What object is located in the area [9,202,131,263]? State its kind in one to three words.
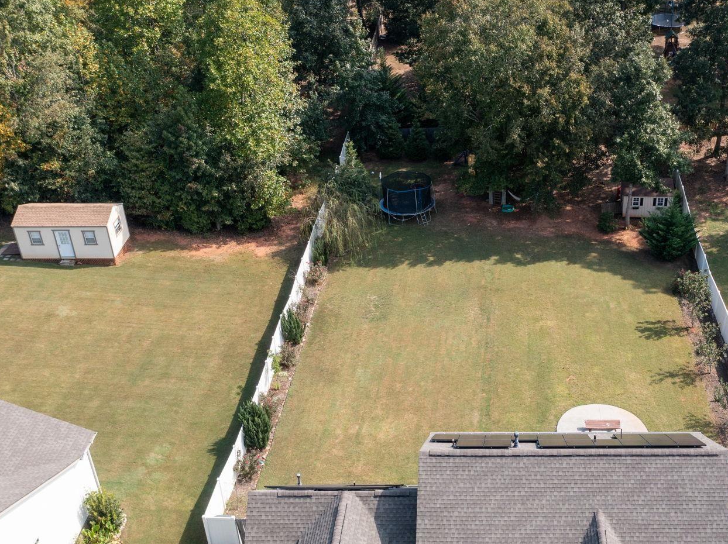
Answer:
shed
